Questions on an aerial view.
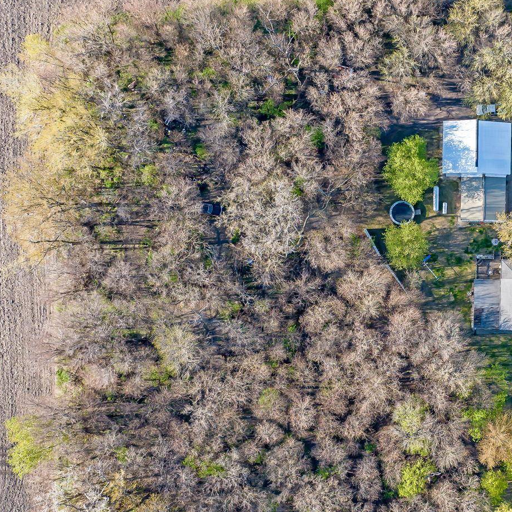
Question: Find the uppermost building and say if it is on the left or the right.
right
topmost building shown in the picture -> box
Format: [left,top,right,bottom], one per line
[442,117,512,221]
